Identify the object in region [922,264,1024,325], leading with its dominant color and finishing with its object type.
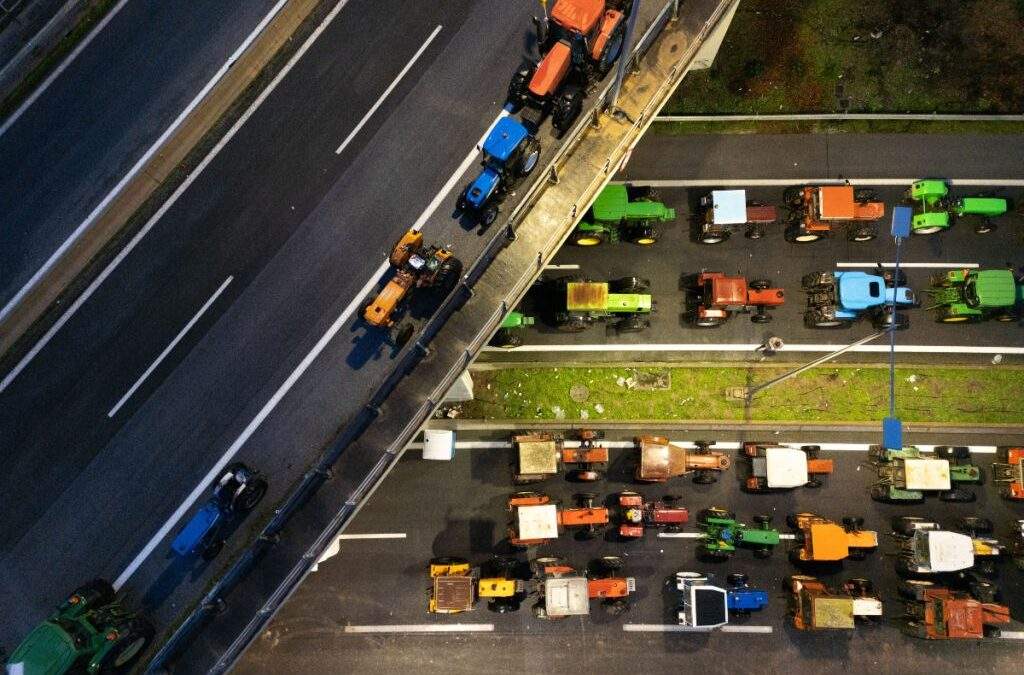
green work vehicle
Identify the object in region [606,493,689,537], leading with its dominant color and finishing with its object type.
red work vehicle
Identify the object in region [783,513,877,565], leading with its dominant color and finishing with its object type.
orange work vehicle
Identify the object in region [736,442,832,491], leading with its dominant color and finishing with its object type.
white work vehicle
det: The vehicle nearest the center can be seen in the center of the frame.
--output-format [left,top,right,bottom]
[496,305,528,346]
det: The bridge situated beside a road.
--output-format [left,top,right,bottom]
[0,0,743,675]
